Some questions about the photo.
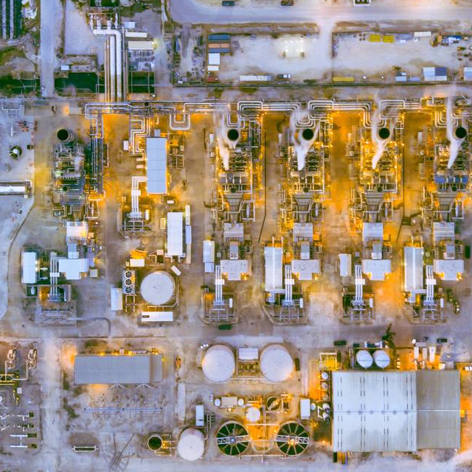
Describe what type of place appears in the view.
industrial area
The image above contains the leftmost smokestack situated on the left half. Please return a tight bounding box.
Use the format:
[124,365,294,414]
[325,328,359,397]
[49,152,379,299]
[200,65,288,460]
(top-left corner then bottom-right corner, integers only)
[55,126,85,147]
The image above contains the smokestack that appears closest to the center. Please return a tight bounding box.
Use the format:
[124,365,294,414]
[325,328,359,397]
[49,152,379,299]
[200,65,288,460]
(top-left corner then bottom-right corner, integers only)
[226,127,241,147]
